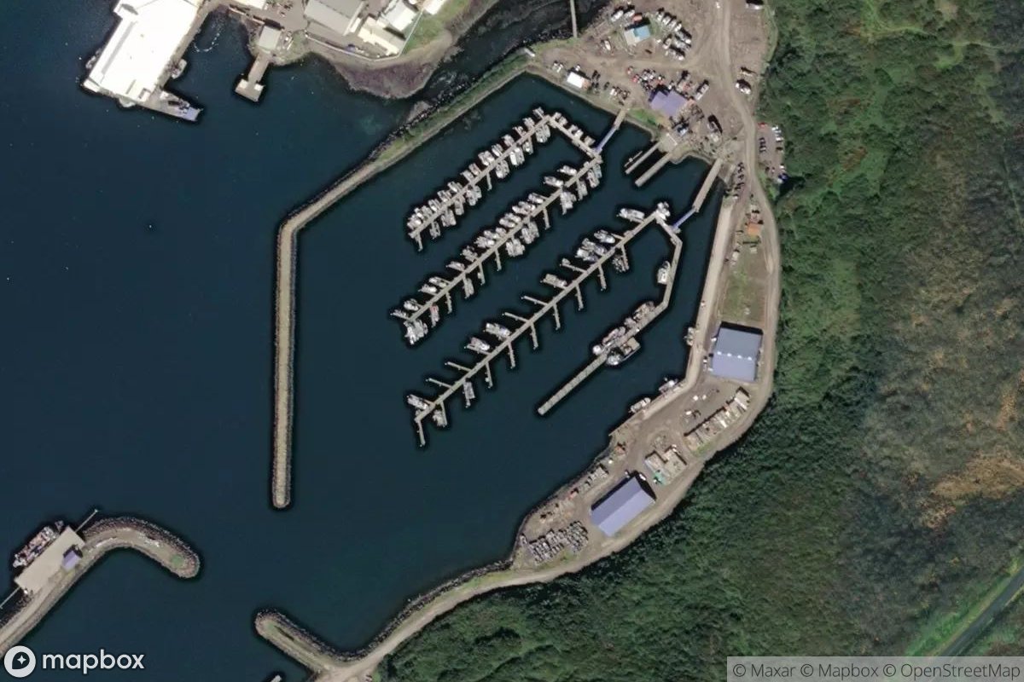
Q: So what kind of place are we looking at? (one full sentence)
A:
It's a port.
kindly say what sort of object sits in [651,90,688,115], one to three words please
building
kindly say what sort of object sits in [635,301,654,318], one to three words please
boat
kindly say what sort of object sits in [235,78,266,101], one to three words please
pier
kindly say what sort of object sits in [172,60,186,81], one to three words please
boat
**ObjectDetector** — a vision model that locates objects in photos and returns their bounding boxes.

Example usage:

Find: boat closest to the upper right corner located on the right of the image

[732,79,749,94]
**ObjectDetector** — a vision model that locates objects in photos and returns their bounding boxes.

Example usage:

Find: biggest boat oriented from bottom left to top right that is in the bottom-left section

[19,526,57,565]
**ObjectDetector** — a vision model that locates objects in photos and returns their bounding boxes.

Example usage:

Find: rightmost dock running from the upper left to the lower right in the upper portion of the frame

[547,115,600,160]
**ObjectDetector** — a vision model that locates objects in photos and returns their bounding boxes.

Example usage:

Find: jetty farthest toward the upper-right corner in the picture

[692,156,728,210]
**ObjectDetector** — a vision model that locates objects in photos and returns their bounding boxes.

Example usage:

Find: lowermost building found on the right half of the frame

[592,477,655,538]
